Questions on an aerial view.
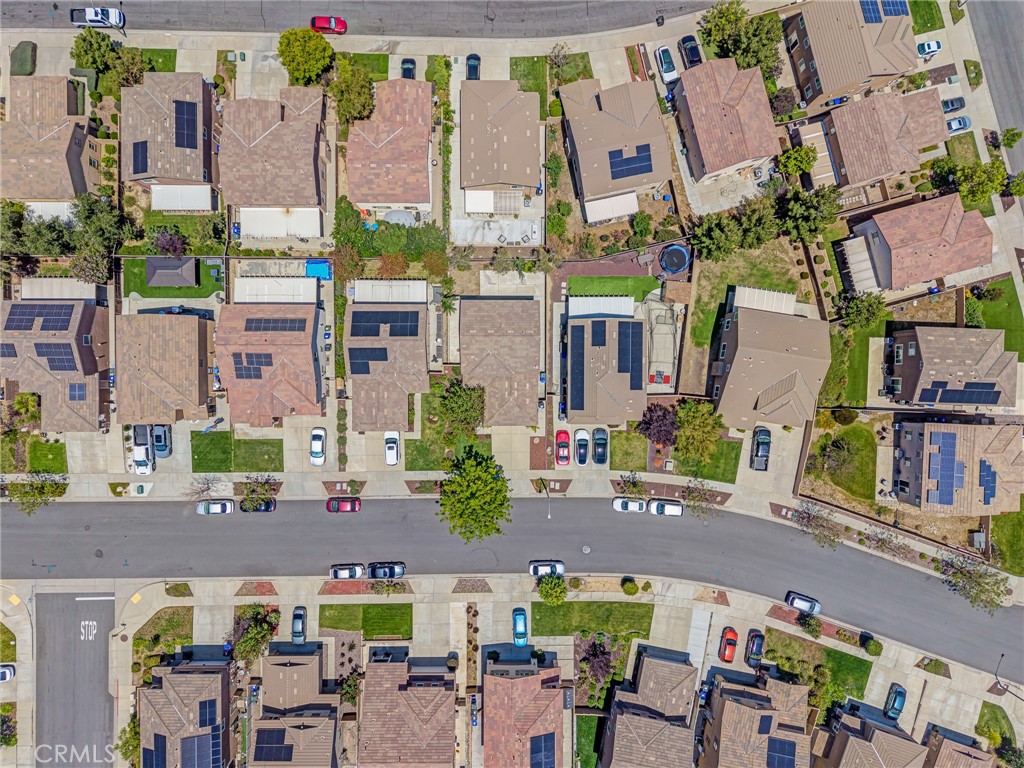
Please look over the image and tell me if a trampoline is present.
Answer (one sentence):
Yes, the image includes a trampoline.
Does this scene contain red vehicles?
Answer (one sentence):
Yes, the photo shows a red vehicle.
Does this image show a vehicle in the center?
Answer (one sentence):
Yes, the scene does show a vehicle in the center.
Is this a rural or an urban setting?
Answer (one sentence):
The area shown here is urban.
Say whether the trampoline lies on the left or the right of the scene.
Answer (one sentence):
It is on the right.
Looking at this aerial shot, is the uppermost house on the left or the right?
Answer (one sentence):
The uppermost house sits on the right side.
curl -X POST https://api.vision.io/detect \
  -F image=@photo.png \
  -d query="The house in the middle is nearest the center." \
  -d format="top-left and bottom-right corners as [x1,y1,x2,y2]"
[459,298,541,426]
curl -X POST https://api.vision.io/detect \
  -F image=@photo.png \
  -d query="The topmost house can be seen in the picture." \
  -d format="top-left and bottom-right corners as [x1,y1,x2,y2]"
[781,0,916,106]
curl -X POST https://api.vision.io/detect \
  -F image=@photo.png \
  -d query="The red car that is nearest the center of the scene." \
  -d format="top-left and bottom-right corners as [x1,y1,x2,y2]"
[554,429,572,466]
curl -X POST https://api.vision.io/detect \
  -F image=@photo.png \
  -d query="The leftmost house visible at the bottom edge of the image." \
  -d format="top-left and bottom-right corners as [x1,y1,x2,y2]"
[139,657,235,768]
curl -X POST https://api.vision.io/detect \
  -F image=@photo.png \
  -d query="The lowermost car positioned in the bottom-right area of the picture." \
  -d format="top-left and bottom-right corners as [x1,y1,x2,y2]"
[883,682,908,719]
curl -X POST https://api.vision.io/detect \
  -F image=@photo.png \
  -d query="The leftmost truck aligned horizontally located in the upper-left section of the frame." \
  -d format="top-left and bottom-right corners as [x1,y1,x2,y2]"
[71,6,124,28]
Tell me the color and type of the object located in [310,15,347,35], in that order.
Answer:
red car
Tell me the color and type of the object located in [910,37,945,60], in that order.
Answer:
white car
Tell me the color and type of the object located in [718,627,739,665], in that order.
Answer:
red car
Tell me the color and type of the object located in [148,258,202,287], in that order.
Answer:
gray gazebo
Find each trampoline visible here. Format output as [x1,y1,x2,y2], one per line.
[659,243,692,275]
